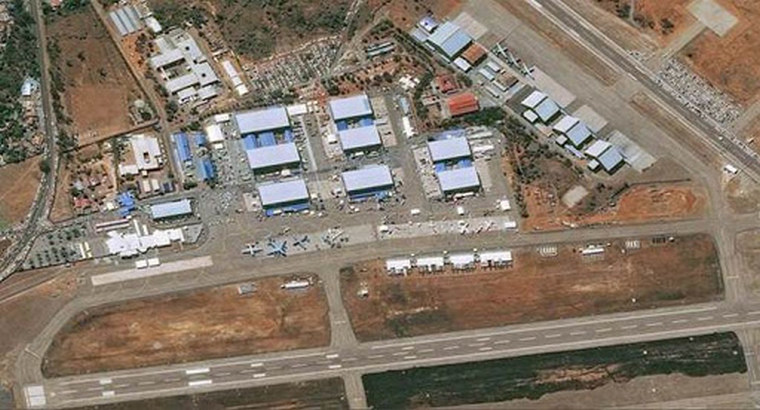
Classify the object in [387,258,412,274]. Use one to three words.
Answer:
house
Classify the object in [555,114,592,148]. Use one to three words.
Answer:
hangar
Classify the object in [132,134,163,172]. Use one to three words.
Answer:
building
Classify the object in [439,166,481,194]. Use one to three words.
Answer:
building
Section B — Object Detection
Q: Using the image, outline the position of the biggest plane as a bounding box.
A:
[264,234,287,254]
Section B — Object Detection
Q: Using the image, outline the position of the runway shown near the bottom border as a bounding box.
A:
[22,303,760,410]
